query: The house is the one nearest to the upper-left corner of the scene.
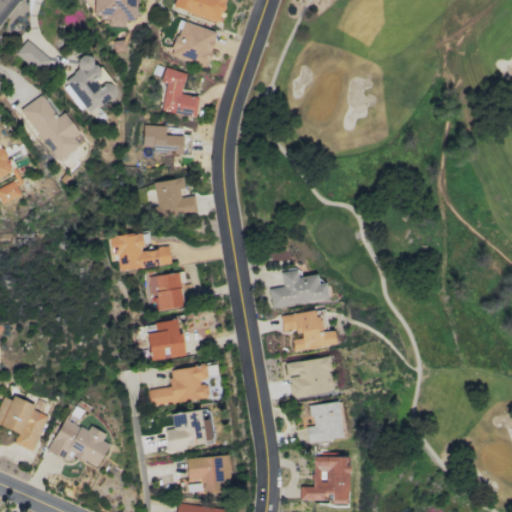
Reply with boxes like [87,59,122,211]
[17,40,56,72]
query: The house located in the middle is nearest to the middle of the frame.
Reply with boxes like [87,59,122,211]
[270,270,331,307]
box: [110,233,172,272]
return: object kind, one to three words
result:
house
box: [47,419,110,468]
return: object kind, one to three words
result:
house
